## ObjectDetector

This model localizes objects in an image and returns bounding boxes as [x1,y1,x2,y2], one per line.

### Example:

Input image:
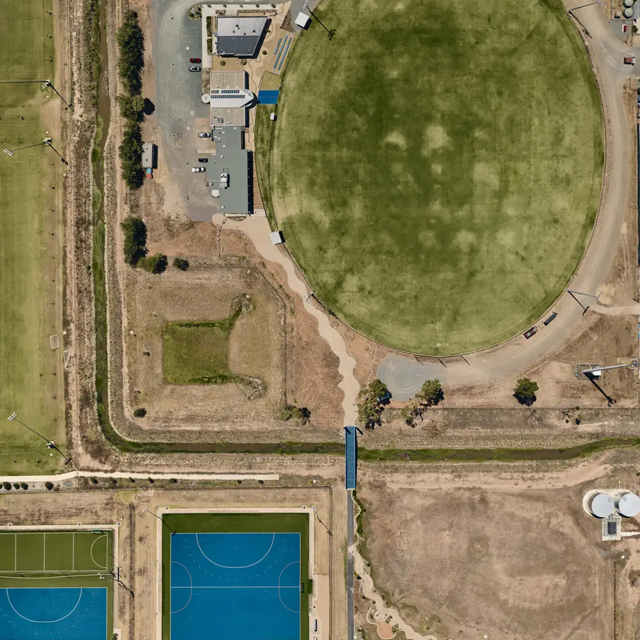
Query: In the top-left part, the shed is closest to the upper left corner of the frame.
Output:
[142,144,156,169]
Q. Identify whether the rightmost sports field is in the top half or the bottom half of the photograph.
top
